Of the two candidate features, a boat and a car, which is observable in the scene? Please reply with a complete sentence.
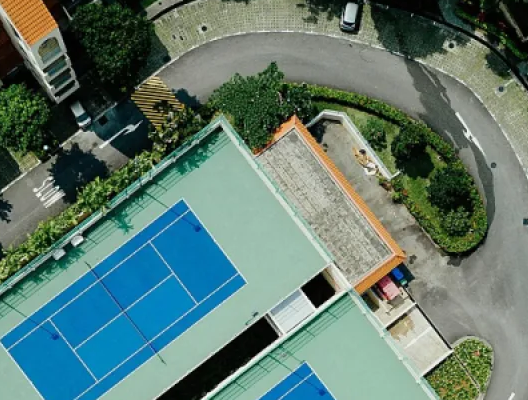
This aerial view contains a car.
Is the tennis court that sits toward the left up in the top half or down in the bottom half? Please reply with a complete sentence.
The bottom half of the photo is where the tennis court that sits toward the left is.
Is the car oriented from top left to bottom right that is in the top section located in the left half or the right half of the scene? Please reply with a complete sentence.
You can find the car oriented from top left to bottom right that is in the top section on the left side of the picture.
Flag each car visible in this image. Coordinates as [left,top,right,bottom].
[67,94,97,134]
[338,0,363,35]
